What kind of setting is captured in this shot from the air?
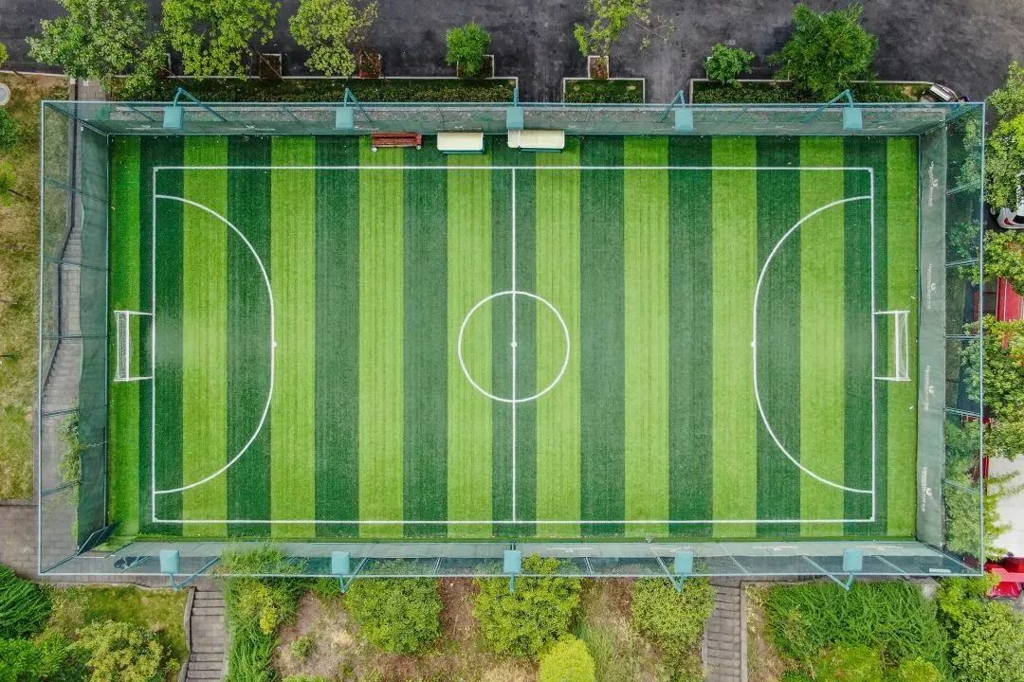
sports ground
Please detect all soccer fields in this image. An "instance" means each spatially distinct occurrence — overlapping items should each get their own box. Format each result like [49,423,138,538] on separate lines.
[108,135,919,547]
